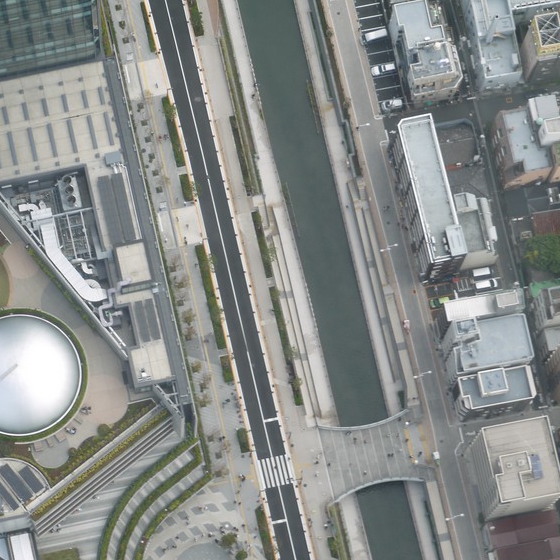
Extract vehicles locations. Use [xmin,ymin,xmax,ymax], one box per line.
[470,265,493,278]
[380,96,404,110]
[371,62,396,75]
[474,278,498,291]
[426,295,451,309]
[362,27,388,42]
